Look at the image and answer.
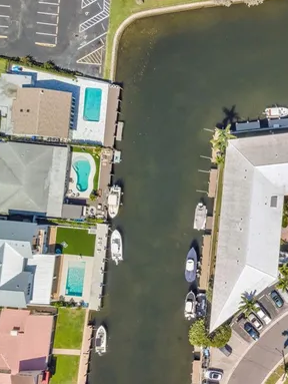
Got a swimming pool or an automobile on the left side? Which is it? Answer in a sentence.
The one visible on the left side is a swimming pool.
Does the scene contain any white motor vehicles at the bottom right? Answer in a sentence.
Yes, at the bottom right there is a white motor vehicle.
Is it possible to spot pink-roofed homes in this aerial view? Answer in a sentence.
Yes, the photo shows a pink-roofed home.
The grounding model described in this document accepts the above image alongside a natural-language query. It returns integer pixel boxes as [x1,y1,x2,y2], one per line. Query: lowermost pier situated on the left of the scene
[77,325,96,384]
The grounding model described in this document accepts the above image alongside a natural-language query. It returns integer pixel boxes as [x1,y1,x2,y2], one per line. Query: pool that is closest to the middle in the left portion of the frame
[72,159,92,193]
